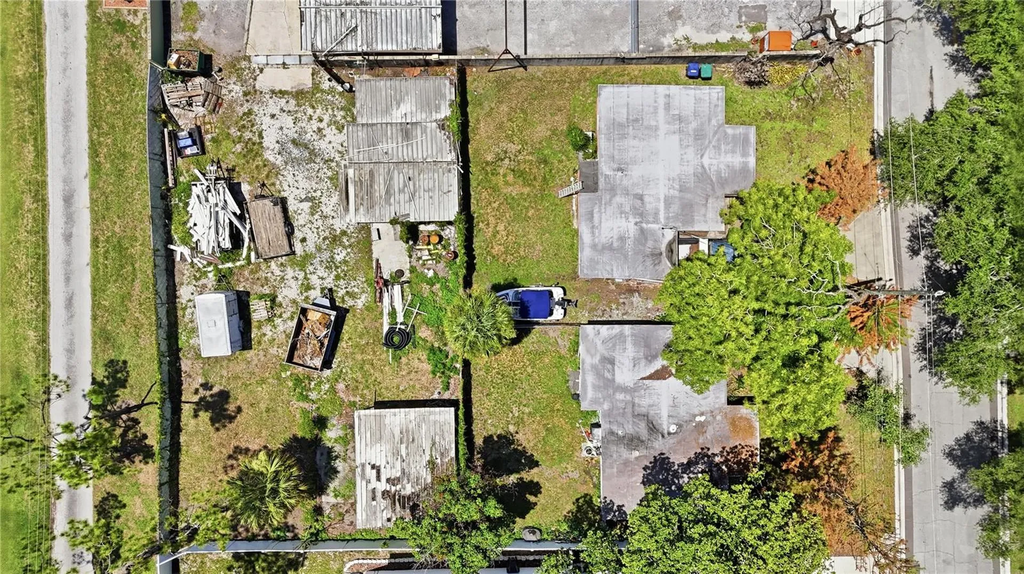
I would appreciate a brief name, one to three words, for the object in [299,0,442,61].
shed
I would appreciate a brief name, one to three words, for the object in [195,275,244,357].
trailer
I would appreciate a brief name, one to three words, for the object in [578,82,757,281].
house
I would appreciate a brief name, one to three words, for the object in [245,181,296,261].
trailer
